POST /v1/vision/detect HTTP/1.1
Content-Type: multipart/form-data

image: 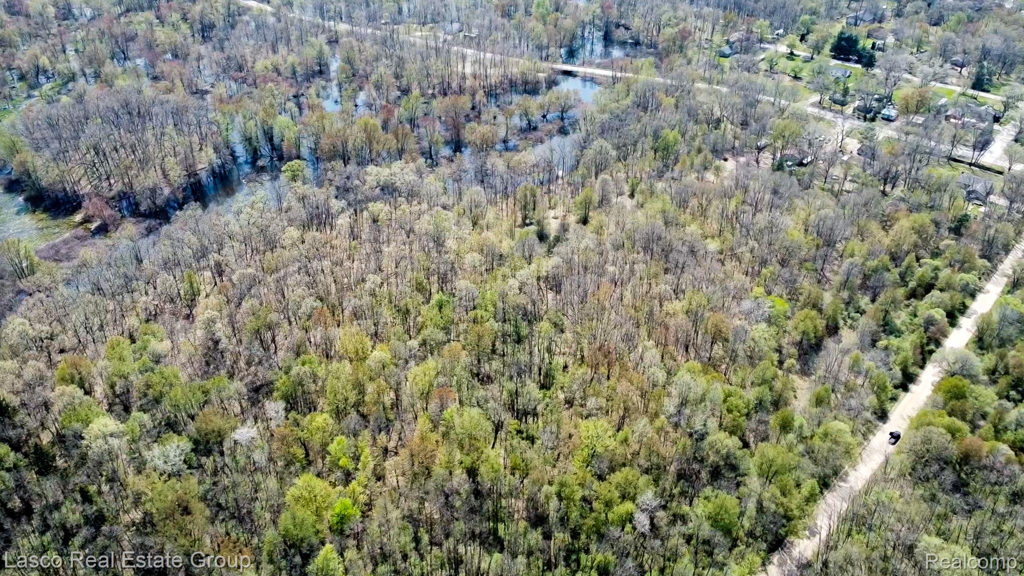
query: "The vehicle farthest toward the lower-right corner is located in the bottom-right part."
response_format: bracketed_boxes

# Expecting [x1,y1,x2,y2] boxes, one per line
[887,429,904,447]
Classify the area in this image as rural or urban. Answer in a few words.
rural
